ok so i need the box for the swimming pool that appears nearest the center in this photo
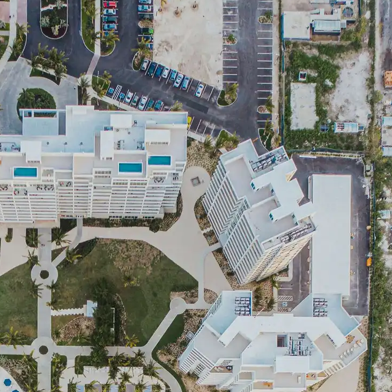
[146,155,173,167]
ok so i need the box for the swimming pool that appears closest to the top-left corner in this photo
[12,166,39,179]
